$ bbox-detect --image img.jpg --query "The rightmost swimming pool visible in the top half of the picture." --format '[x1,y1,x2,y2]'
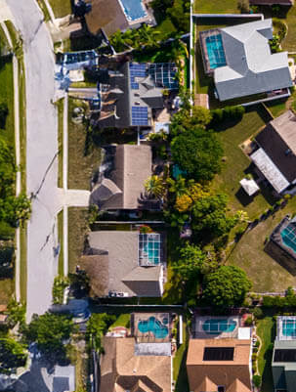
[193,30,226,81]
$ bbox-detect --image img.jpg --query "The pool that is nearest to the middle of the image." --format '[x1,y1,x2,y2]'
[140,233,160,266]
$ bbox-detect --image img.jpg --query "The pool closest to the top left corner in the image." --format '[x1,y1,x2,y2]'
[123,0,153,25]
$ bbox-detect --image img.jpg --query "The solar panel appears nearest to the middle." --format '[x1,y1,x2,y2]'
[130,107,147,122]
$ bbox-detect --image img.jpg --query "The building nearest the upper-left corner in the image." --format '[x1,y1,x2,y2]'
[82,0,132,46]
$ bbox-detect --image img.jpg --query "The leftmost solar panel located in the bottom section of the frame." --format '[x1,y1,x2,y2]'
[204,347,233,360]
